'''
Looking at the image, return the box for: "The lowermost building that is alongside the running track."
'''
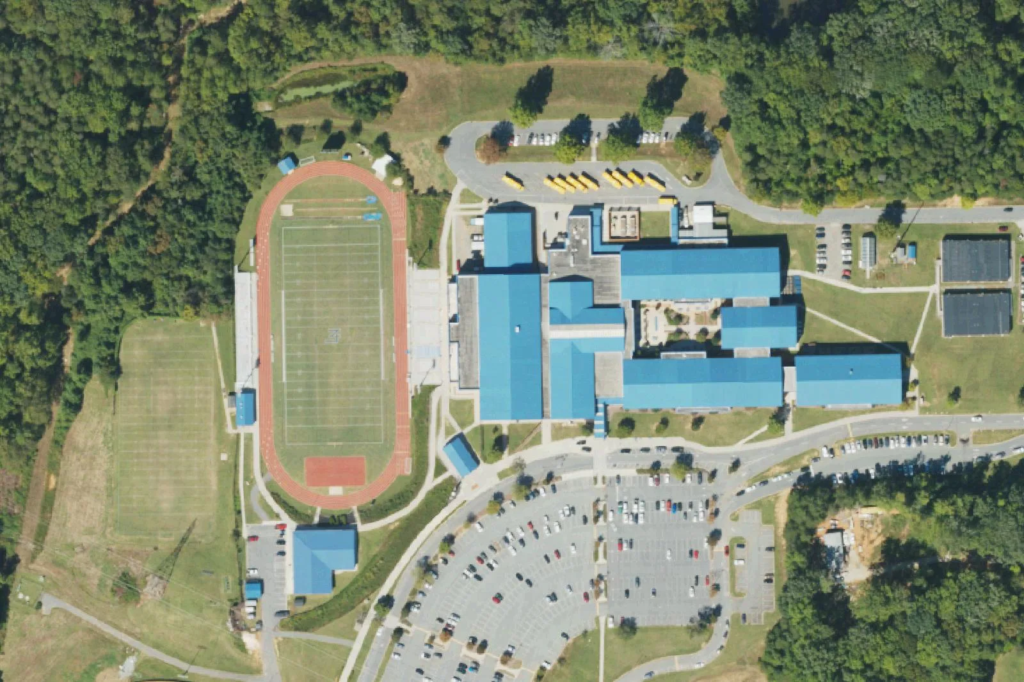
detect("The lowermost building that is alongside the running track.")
[293,530,356,595]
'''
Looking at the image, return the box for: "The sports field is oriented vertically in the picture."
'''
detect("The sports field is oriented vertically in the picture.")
[271,175,395,497]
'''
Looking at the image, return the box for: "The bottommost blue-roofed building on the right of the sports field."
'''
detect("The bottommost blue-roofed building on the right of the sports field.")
[443,438,479,477]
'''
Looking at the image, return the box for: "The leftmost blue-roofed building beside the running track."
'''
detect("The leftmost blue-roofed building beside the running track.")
[236,393,254,426]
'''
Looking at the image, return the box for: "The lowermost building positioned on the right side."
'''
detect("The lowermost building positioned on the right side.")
[825,532,845,564]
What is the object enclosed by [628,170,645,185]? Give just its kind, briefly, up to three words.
vehicle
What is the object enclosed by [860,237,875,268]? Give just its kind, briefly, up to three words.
greenhouse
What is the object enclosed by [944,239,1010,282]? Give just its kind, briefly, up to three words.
building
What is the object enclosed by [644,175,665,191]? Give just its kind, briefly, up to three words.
vehicle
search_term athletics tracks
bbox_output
[257,161,410,511]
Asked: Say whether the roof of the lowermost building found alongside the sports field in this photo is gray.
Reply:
No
